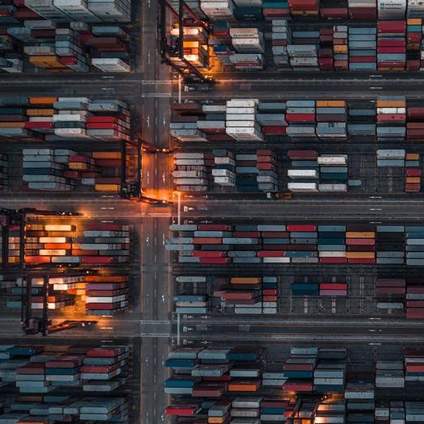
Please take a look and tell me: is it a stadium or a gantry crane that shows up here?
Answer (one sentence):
This aerial view contains a gantry crane.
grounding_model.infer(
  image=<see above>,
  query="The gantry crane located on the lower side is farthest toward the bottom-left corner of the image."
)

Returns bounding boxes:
[26,270,98,333]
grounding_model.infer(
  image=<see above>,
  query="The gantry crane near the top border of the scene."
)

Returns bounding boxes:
[159,0,215,80]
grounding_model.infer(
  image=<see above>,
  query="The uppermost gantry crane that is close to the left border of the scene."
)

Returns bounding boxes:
[0,205,76,271]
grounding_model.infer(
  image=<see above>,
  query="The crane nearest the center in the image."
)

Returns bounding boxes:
[113,135,175,201]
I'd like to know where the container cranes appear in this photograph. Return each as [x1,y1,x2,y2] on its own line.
[0,205,76,271]
[159,0,215,80]
[26,270,98,333]
[113,135,175,201]
[292,393,330,424]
